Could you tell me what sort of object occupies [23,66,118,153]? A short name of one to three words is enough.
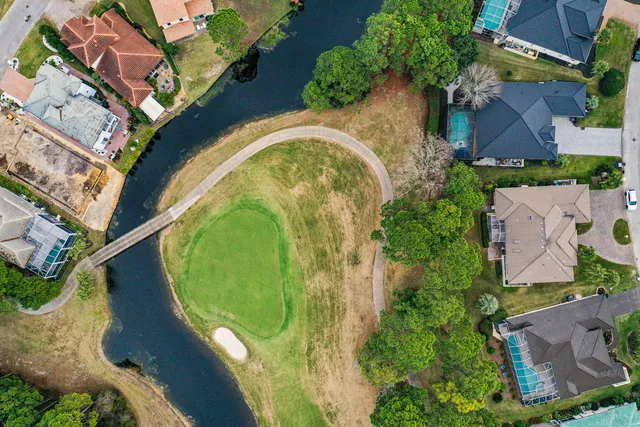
house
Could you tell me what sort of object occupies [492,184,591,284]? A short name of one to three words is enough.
house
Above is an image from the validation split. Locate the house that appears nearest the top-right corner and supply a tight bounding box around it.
[502,0,608,66]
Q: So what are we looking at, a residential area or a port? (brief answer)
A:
residential area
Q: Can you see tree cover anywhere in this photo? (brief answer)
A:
Yes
